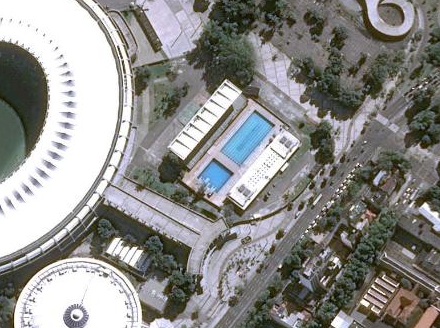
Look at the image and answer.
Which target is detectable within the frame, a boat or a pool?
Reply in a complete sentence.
Looking from above, you can make out a pool.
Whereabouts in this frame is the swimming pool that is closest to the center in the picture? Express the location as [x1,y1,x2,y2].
[182,101,300,215]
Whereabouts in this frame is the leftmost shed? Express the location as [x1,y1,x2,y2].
[106,237,149,273]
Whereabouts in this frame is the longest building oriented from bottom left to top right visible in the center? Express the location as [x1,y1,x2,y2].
[228,129,301,211]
